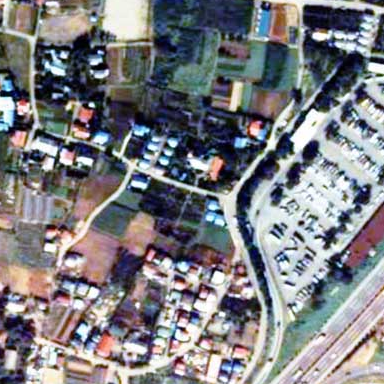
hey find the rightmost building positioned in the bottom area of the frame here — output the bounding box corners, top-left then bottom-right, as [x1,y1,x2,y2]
[344,208,384,268]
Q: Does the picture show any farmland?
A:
Yes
